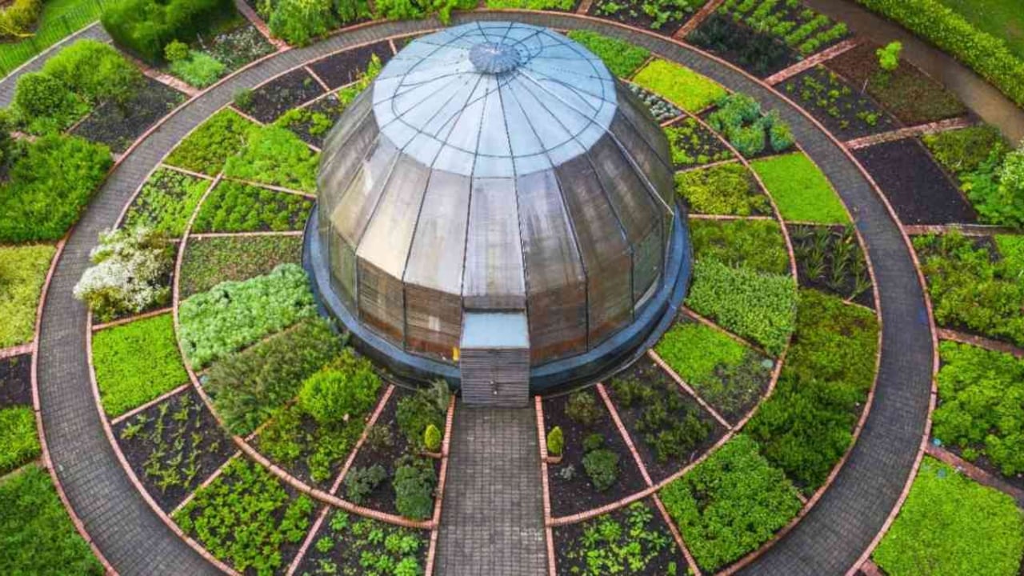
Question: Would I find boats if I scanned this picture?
No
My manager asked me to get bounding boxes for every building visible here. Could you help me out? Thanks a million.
[300,26,691,406]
